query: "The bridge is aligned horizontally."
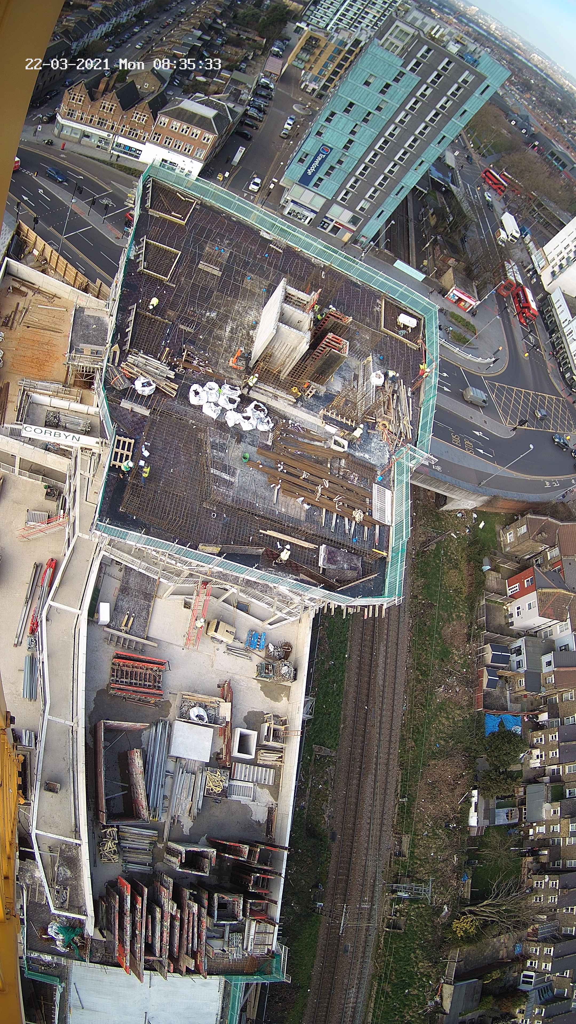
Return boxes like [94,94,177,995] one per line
[394,467,496,516]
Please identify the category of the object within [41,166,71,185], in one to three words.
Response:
car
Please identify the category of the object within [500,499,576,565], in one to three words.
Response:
house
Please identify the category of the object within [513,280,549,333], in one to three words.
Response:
bus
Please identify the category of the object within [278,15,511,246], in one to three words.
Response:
building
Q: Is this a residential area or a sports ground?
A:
residential area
